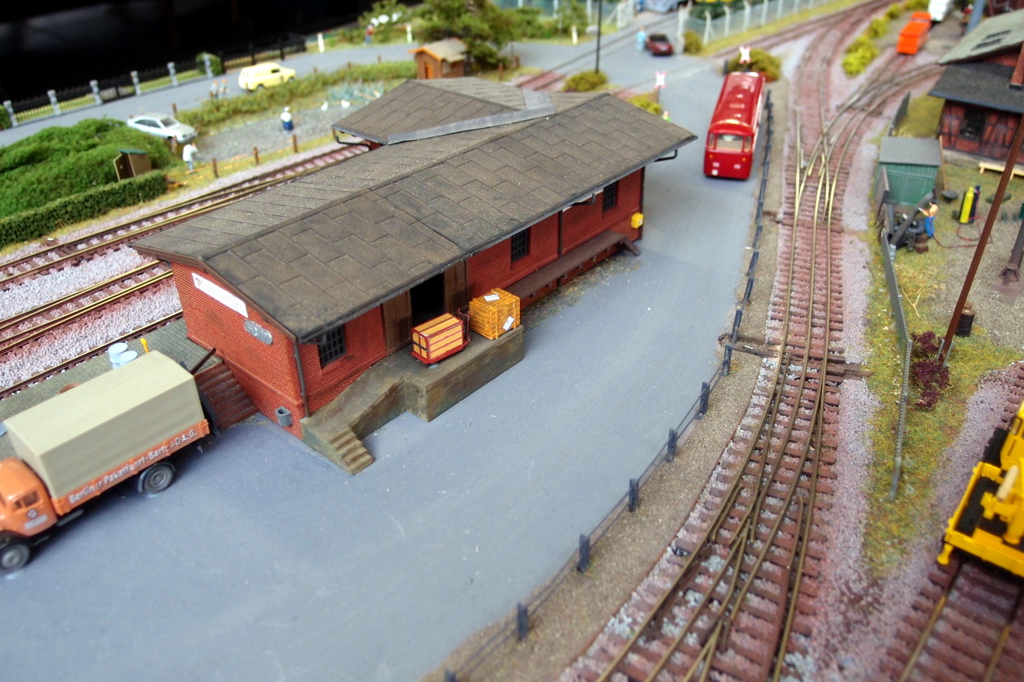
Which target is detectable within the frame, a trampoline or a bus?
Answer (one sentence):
The image shows a bus.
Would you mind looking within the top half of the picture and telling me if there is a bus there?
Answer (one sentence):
Yes, a bus can be seen within the top half of the picture.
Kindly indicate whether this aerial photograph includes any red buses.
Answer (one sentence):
Yes, the photo shows a red bus.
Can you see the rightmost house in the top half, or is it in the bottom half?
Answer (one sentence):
It is in the top half that the rightmost house appears.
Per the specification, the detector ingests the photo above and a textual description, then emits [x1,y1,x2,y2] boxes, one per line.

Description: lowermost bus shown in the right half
[706,75,768,177]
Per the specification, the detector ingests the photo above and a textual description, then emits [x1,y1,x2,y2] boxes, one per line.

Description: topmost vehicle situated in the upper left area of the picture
[230,58,298,92]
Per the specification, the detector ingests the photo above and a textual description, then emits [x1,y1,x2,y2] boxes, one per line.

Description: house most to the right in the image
[936,5,1024,184]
